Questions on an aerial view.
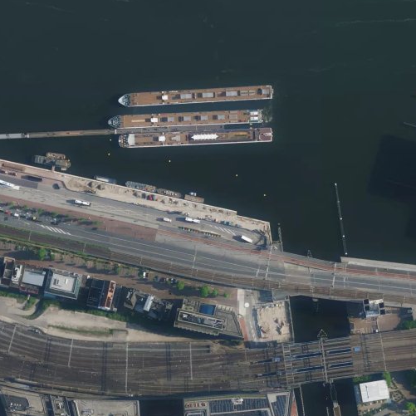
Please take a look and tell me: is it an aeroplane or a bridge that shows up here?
bridge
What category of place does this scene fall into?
port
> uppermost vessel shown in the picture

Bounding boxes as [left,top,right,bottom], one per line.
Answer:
[118,85,272,108]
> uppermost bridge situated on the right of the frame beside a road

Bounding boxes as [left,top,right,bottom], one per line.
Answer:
[283,250,349,302]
